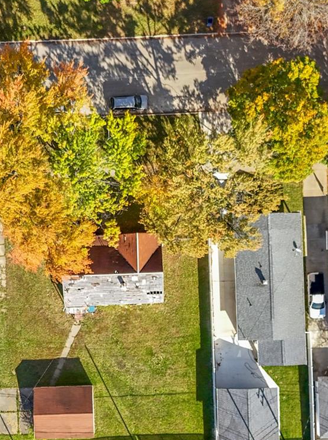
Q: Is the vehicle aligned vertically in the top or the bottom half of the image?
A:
bottom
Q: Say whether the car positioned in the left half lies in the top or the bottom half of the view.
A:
top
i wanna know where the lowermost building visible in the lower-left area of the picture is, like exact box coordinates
[33,385,95,439]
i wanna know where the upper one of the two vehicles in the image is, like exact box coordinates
[109,92,147,112]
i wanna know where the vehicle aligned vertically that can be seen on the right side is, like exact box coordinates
[308,272,328,320]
